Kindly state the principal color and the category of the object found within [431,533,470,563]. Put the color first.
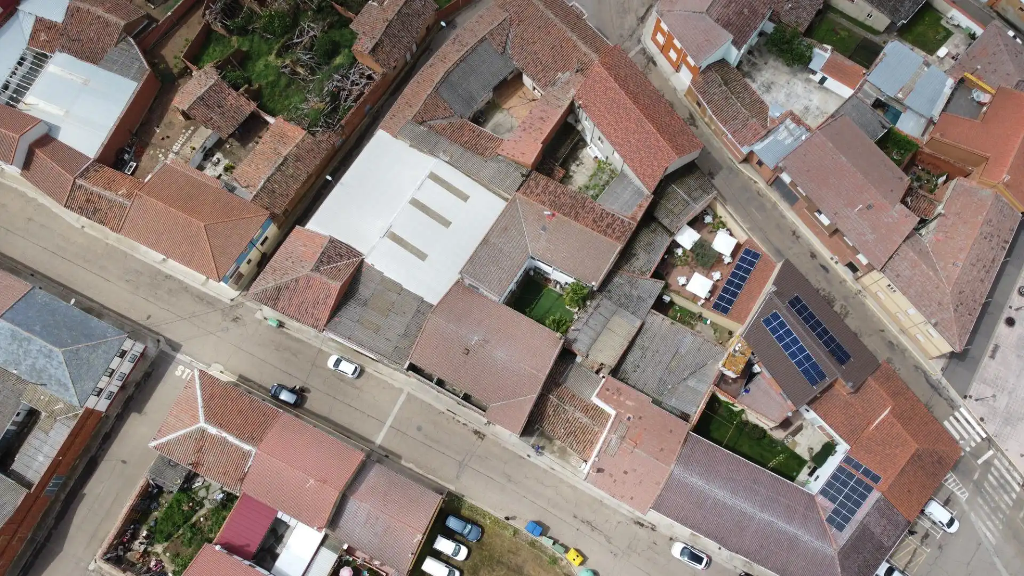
white van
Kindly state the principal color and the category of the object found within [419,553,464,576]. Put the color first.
white vehicle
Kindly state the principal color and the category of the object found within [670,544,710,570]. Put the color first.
white car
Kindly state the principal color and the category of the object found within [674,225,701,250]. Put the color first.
white umbrella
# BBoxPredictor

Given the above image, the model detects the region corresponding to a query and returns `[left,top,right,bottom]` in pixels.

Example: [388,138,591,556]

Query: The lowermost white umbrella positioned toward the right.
[685,272,714,299]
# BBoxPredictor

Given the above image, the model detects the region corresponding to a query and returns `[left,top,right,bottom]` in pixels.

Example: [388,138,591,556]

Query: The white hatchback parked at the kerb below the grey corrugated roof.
[327,357,362,378]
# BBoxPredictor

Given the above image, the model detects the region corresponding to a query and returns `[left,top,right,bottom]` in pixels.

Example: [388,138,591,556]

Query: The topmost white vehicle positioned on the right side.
[920,498,961,533]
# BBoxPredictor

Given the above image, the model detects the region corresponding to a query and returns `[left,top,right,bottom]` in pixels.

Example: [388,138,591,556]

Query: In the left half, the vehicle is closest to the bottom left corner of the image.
[268,383,303,407]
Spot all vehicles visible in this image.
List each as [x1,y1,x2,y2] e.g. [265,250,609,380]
[268,383,303,407]
[327,357,362,378]
[431,533,470,563]
[920,498,961,533]
[670,544,710,570]
[443,512,483,542]
[419,553,464,576]
[881,563,908,576]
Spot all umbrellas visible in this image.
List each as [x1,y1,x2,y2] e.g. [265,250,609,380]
[712,230,738,256]
[674,225,701,250]
[685,272,714,299]
[338,563,354,576]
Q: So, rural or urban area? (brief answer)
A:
urban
